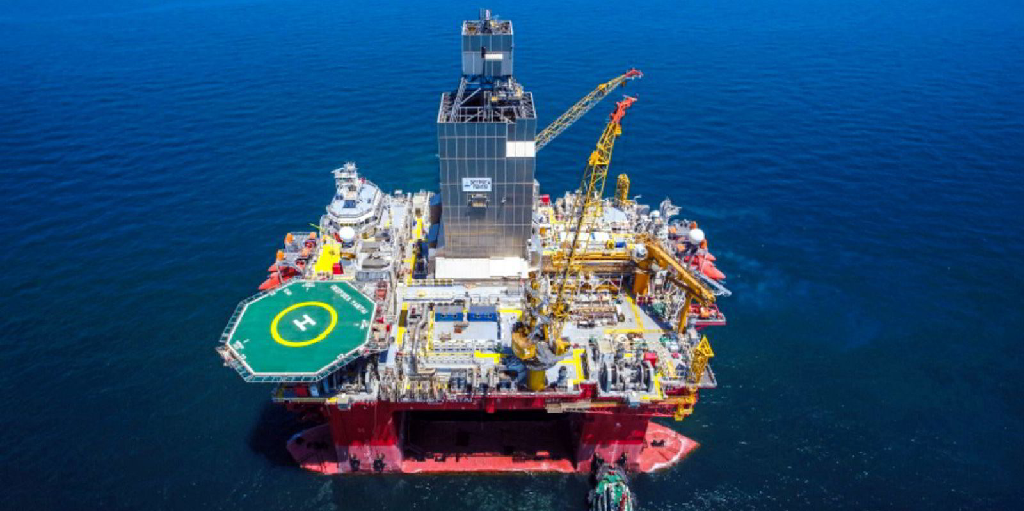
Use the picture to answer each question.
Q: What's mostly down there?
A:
water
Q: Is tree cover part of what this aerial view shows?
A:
No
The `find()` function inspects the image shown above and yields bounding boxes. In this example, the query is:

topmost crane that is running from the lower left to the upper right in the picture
[534,70,641,161]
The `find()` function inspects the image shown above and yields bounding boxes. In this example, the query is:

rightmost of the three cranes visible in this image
[623,230,717,332]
